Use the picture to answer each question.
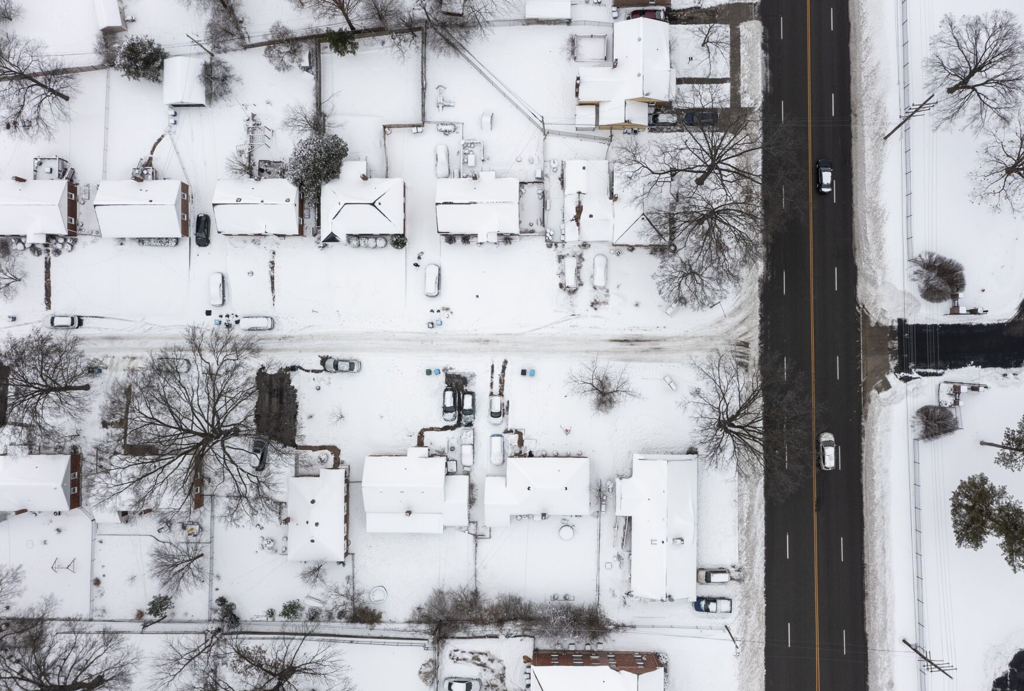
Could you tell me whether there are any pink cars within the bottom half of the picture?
No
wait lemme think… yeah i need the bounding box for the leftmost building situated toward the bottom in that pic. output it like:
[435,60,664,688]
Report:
[0,442,81,513]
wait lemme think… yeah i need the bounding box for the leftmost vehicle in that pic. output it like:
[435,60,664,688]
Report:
[44,314,83,330]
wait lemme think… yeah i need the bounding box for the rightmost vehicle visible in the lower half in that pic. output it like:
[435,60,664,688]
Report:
[817,431,837,471]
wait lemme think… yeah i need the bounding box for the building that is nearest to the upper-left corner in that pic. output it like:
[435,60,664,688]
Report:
[92,0,134,36]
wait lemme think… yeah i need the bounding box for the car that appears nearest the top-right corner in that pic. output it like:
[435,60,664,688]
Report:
[815,159,833,194]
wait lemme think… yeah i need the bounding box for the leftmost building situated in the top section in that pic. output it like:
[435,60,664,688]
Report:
[0,176,78,245]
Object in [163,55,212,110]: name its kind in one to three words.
building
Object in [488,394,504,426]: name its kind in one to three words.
car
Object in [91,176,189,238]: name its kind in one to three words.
house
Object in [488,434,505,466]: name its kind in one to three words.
vehicle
